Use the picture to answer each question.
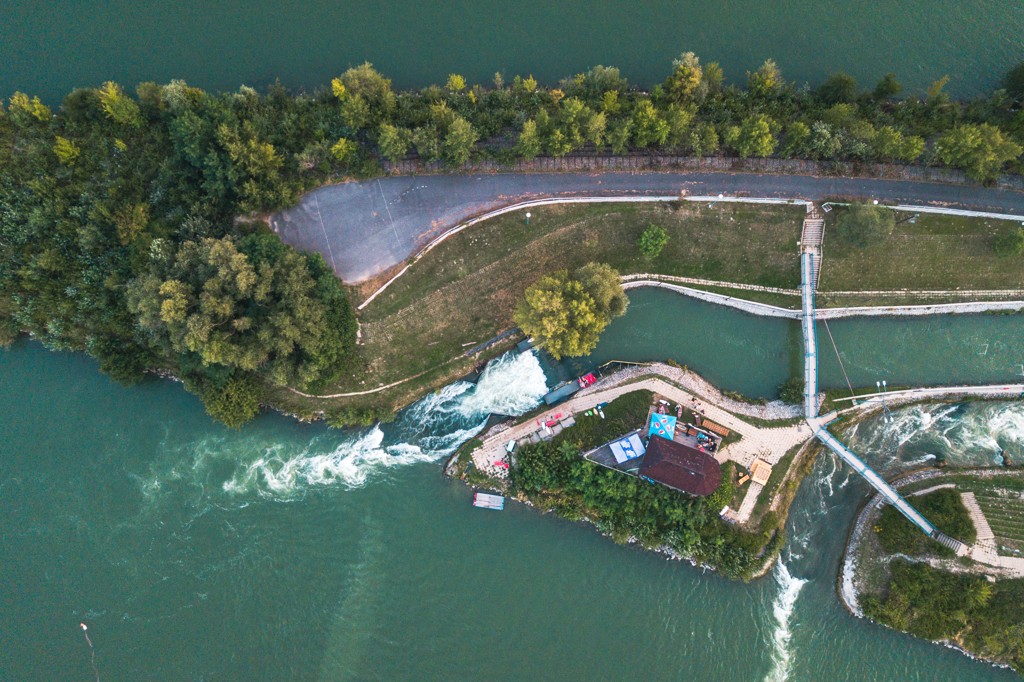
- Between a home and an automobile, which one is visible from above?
home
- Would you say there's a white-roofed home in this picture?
No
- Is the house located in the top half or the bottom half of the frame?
bottom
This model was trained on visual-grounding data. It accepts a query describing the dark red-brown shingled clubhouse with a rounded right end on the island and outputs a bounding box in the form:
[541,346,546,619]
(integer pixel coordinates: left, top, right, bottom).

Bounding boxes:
[638,435,722,495]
